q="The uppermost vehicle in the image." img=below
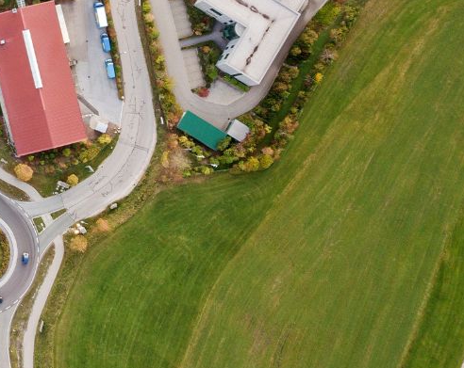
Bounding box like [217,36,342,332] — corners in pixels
[96,0,109,25]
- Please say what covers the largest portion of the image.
grass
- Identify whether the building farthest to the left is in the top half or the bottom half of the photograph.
top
